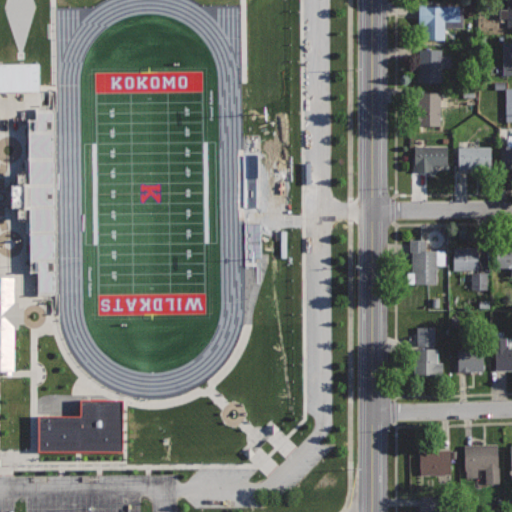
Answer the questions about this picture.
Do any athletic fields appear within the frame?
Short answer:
Yes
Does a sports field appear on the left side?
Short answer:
Yes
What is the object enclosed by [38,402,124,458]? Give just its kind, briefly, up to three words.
building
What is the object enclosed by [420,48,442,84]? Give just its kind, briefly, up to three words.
house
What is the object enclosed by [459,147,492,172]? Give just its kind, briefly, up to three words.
house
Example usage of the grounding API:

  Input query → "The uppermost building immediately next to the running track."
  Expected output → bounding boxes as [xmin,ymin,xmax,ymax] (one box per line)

[0,64,40,92]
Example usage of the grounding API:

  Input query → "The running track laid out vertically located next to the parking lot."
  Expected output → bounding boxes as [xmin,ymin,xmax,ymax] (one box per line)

[56,0,246,397]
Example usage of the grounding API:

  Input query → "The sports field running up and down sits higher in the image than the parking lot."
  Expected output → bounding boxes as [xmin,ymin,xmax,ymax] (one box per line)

[81,14,222,372]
